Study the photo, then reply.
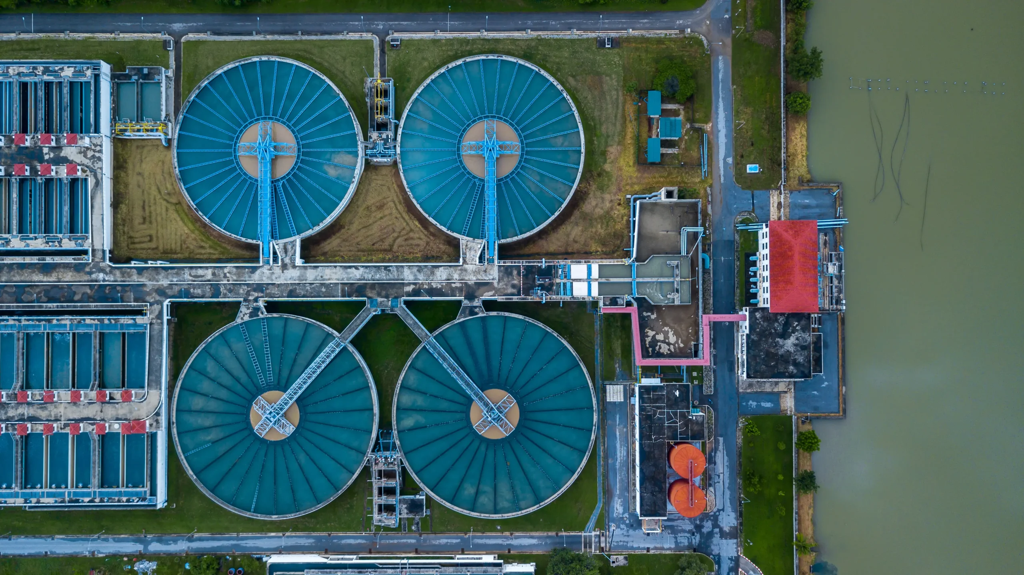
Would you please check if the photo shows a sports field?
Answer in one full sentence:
No, the frame has no sports field in it.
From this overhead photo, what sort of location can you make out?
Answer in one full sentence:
This looks like an industrial area.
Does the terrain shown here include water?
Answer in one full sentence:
Yes, water shows up in the scene.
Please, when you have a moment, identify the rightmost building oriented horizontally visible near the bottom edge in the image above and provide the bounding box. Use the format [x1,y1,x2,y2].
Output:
[503,559,535,571]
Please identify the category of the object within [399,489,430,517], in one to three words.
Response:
building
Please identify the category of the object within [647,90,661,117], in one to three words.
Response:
shed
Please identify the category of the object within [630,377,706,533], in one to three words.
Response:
building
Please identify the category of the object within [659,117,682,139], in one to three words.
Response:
shed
